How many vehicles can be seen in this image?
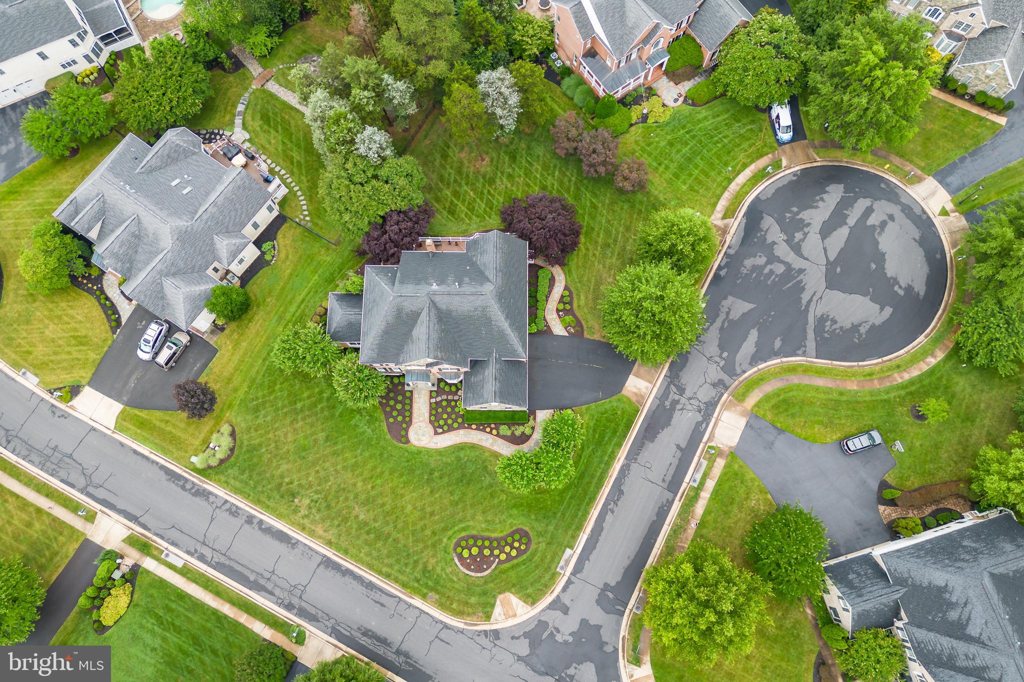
4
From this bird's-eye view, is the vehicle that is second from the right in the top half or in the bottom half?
top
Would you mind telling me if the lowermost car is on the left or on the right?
right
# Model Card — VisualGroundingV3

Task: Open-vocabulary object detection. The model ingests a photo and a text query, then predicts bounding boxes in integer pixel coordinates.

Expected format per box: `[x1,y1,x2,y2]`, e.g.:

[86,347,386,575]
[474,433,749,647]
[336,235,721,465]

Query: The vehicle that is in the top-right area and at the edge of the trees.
[769,101,791,141]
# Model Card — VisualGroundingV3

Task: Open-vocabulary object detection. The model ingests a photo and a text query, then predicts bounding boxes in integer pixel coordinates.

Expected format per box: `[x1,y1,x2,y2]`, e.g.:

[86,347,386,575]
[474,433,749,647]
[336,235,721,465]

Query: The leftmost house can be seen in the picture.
[0,0,139,98]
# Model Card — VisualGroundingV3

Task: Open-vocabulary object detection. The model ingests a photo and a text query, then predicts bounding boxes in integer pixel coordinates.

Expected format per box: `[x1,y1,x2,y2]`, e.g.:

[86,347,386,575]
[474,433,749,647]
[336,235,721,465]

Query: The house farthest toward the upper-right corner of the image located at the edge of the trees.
[873,0,1024,103]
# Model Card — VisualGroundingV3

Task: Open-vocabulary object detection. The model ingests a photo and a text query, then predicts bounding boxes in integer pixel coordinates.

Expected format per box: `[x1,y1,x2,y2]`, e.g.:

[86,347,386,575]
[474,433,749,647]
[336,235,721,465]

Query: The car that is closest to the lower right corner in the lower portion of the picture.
[838,431,880,455]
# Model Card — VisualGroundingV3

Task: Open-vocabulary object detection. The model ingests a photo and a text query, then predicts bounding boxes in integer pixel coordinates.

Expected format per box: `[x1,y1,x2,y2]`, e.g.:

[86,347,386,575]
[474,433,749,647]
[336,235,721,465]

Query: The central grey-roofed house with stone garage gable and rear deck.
[325,230,535,410]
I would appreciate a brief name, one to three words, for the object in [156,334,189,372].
car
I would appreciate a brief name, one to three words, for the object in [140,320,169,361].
car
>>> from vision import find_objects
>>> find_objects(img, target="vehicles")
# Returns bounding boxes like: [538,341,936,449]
[838,431,880,455]
[769,101,791,141]
[140,320,169,361]
[156,334,189,372]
